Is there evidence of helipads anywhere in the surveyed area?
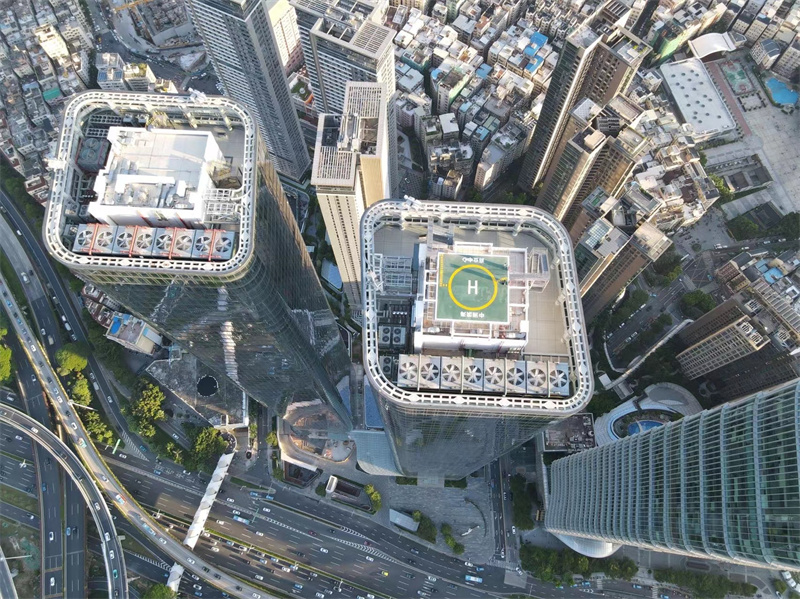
Yes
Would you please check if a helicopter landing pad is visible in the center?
Yes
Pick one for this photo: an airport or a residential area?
residential area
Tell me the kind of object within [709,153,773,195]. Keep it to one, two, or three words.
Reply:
building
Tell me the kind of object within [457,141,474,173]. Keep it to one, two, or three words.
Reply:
house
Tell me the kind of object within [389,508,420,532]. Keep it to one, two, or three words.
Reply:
building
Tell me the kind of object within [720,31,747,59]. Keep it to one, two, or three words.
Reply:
house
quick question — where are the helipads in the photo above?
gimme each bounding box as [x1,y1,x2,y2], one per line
[415,239,531,353]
